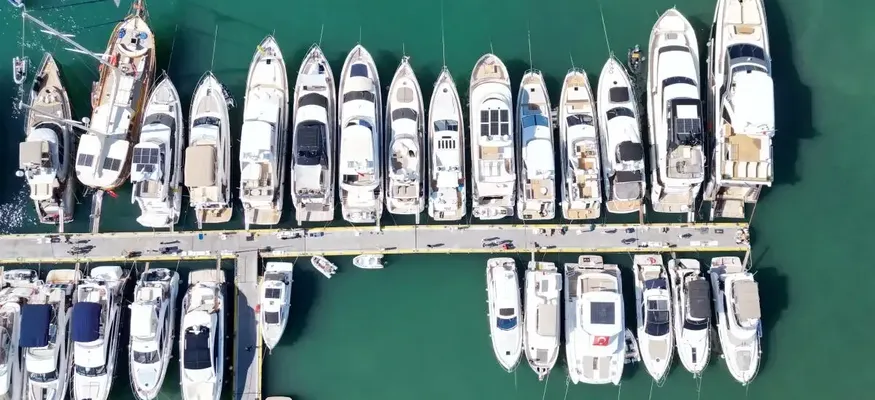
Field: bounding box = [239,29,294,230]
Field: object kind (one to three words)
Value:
boat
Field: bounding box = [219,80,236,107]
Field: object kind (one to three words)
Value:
boat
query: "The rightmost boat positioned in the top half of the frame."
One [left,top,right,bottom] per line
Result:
[694,0,780,222]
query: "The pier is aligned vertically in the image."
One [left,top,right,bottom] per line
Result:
[233,260,264,400]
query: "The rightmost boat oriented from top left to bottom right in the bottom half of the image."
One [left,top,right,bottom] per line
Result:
[312,259,337,279]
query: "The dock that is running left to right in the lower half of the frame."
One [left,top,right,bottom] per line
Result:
[0,224,750,264]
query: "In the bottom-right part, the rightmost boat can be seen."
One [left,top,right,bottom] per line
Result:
[708,251,763,400]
